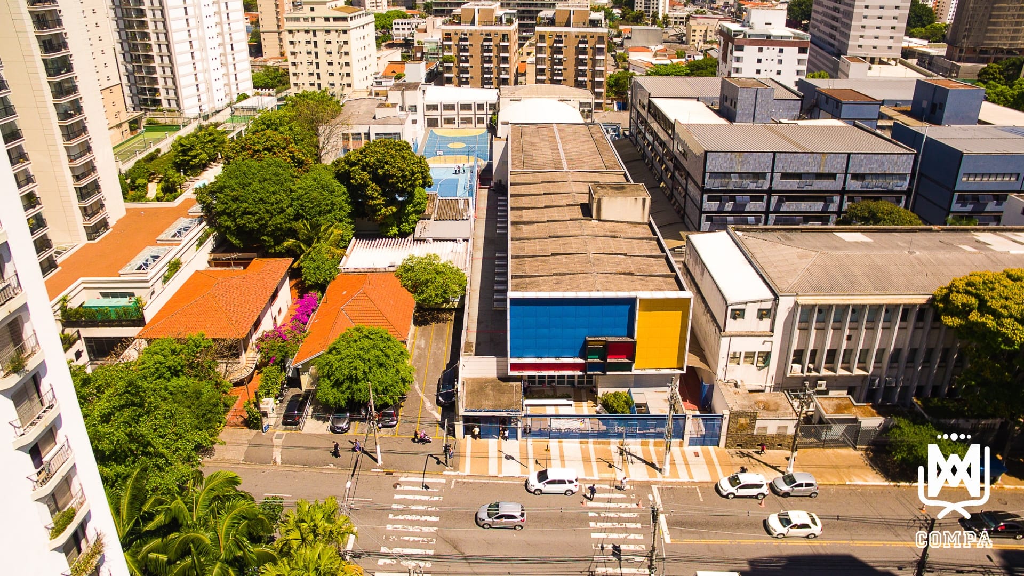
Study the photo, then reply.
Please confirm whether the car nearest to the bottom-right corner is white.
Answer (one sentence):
No, the car nearest to the bottom-right corner is actually black.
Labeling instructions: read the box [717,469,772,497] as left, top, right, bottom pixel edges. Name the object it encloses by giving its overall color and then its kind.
white car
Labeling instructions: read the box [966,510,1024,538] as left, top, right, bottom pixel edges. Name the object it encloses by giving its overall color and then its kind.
black car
